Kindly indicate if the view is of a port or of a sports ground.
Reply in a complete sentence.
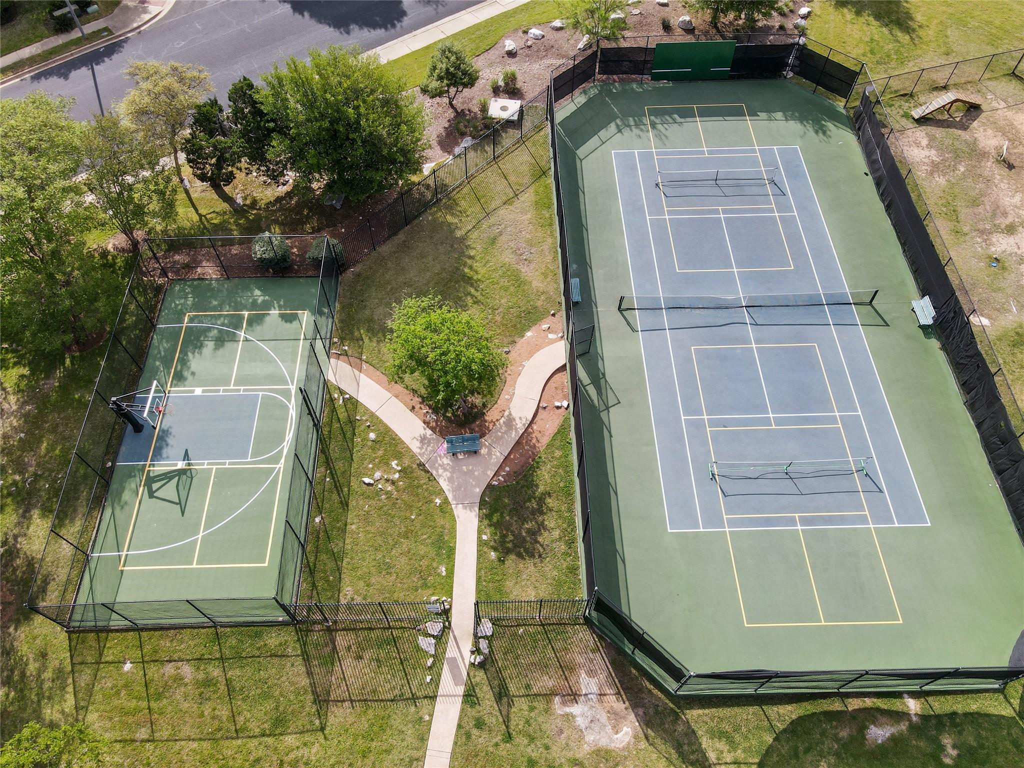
It's a sports ground.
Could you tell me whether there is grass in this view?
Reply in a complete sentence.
Yes, the picture does contain grass.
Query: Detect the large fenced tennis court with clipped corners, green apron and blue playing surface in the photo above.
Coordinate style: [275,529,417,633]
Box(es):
[545,77,1024,700]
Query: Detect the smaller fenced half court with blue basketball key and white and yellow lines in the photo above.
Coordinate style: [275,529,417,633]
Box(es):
[67,274,343,632]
